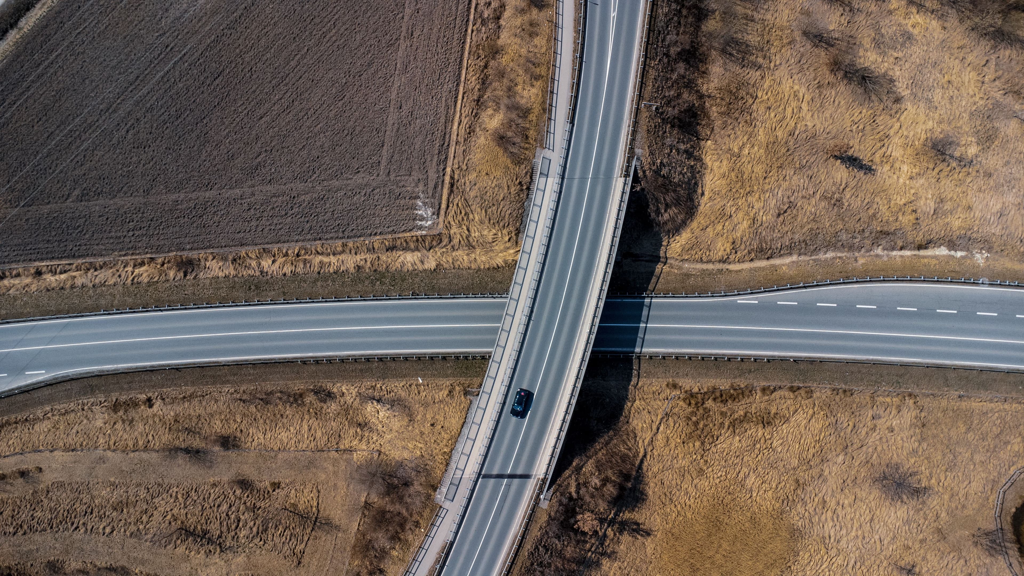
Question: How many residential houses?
0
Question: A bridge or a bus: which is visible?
bridge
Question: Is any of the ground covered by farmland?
Yes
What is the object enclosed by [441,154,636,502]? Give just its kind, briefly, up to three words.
bridge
